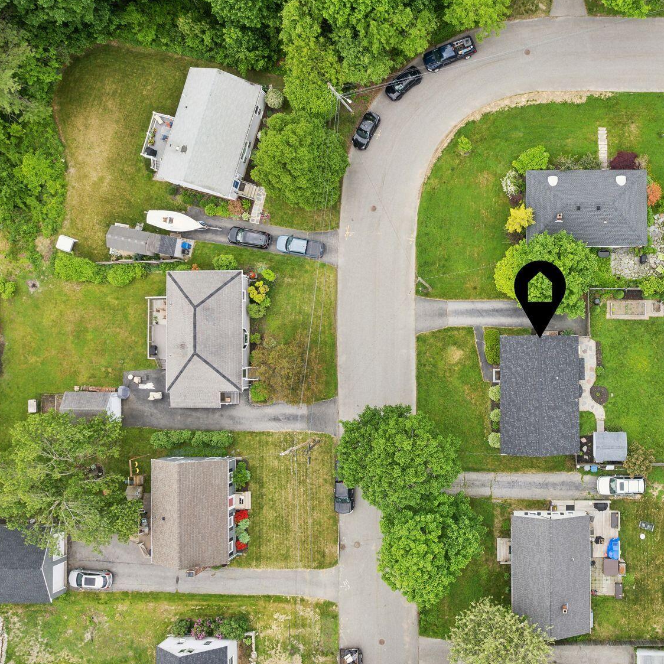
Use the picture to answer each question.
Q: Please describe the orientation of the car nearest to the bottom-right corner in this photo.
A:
from left to right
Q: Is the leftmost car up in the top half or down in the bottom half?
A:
bottom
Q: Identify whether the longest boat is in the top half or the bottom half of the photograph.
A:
top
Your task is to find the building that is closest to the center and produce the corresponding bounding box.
[165,269,261,408]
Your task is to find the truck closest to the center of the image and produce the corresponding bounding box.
[275,233,326,259]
